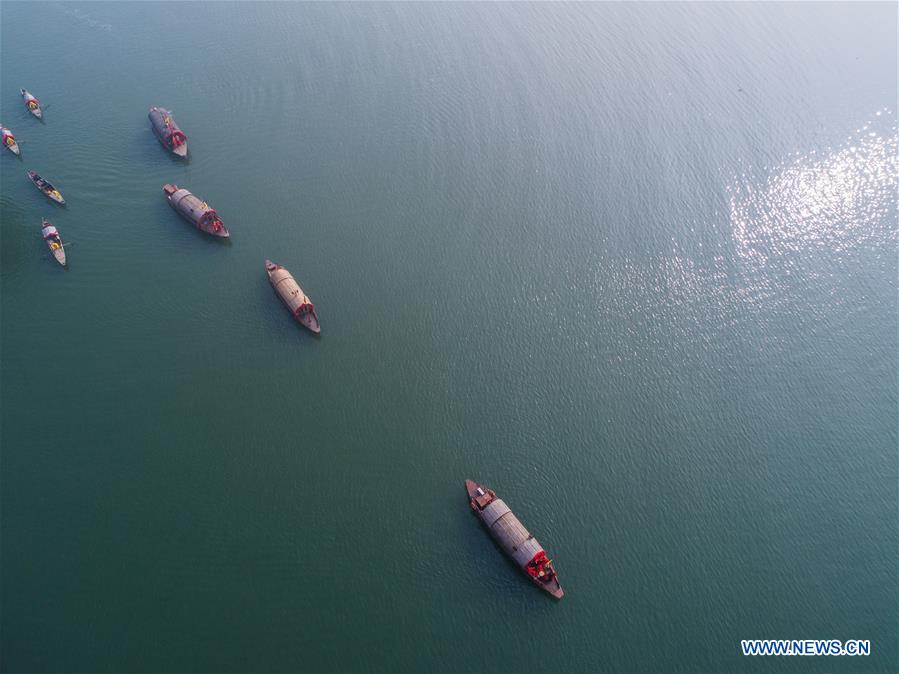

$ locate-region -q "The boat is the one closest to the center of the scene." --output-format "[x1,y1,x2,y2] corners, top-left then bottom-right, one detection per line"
[263,262,322,336]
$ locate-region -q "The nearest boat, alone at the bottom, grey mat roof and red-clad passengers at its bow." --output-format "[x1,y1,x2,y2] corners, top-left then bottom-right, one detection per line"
[464,479,565,600]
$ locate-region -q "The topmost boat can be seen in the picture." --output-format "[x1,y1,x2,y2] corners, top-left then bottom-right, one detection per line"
[18,88,42,119]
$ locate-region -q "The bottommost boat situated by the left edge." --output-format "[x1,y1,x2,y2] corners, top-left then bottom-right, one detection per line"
[38,216,79,269]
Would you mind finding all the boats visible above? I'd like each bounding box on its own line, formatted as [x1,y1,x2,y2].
[147,108,190,161]
[38,216,79,269]
[464,479,565,600]
[263,262,322,336]
[0,124,31,157]
[161,183,232,243]
[25,170,66,205]
[18,88,42,119]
